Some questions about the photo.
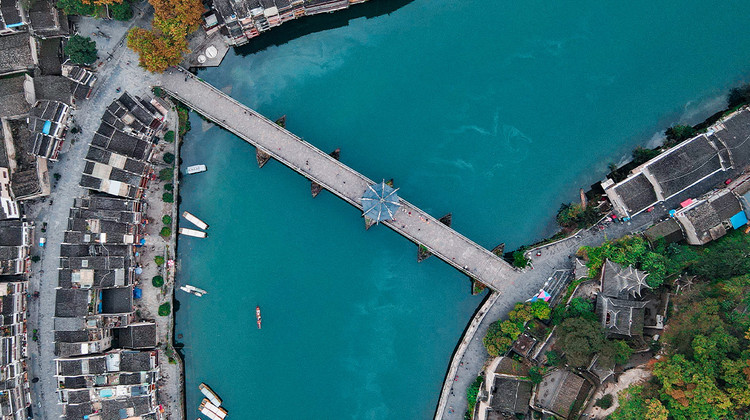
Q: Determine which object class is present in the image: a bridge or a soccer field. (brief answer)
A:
bridge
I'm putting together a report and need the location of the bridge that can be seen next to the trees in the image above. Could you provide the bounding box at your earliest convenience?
[157,64,516,293]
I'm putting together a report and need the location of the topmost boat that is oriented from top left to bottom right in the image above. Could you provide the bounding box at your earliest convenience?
[182,212,208,229]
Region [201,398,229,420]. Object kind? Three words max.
boat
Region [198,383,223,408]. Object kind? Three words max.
boat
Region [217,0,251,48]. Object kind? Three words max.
house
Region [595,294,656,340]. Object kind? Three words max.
building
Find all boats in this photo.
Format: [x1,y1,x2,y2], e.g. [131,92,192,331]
[178,229,207,237]
[196,406,220,420]
[178,287,201,297]
[201,398,229,420]
[256,307,261,328]
[185,165,207,173]
[183,285,207,294]
[182,212,208,229]
[198,383,223,408]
